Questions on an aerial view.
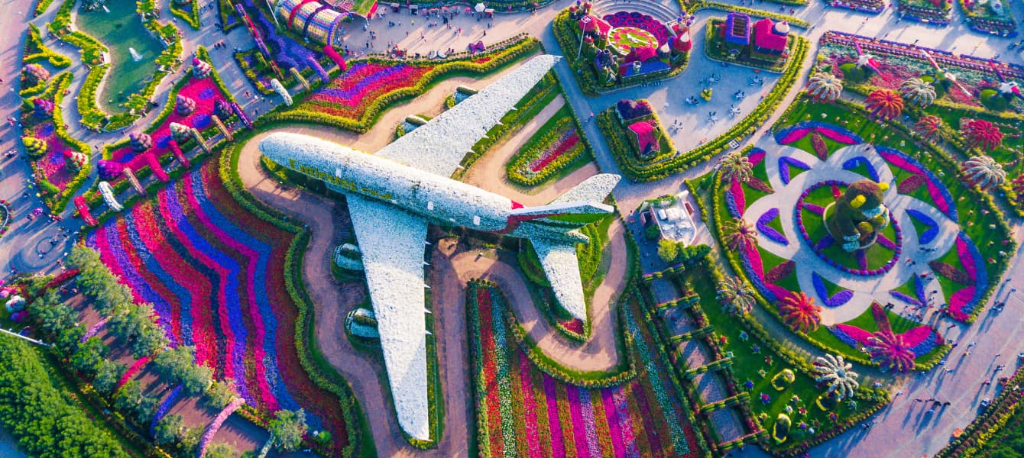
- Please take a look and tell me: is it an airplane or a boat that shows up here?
airplane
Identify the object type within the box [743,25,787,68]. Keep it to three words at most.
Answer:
house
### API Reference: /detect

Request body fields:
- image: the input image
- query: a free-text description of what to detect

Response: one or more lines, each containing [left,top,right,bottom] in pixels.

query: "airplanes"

[259,48,630,436]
